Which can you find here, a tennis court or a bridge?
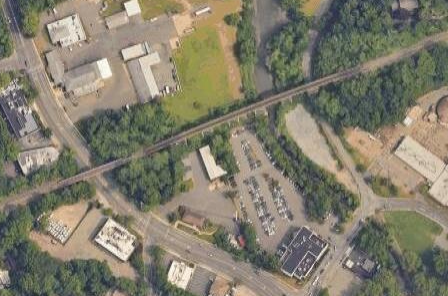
bridge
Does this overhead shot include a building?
Yes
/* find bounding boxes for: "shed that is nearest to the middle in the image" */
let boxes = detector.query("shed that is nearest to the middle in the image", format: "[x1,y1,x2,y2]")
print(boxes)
[199,147,226,181]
